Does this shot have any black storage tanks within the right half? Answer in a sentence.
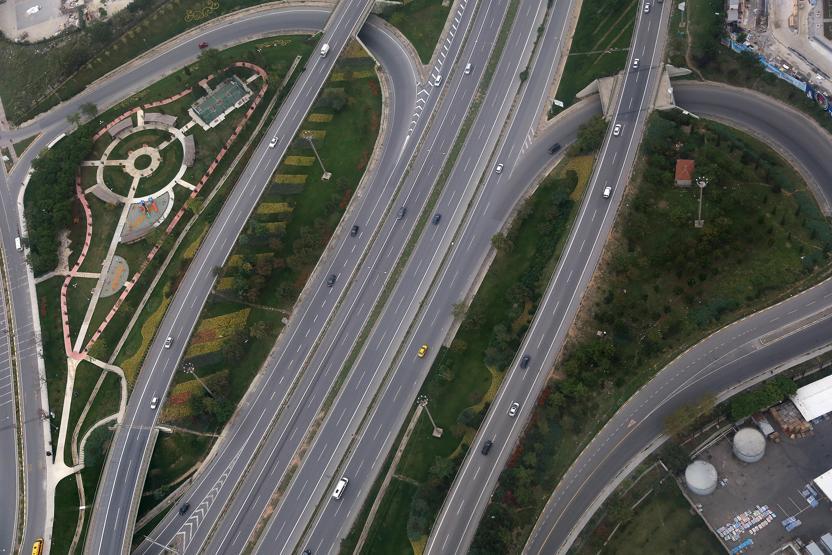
No, there's no black storage tank to be seen within the right half.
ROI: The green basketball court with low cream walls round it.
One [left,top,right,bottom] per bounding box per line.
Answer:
[193,77,249,124]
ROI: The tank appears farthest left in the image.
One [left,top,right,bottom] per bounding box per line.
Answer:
[685,460,718,496]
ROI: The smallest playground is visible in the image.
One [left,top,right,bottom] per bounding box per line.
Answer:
[100,255,128,297]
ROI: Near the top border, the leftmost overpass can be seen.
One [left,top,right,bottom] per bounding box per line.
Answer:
[311,0,404,67]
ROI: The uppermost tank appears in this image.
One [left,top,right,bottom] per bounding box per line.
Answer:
[732,427,766,465]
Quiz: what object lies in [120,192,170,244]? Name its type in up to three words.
playground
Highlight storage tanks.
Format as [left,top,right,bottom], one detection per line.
[732,427,766,465]
[685,460,718,496]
